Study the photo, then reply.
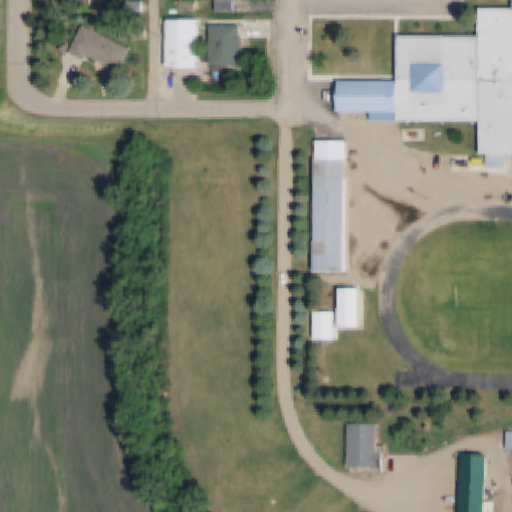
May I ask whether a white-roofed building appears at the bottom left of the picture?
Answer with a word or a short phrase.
No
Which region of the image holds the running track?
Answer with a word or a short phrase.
right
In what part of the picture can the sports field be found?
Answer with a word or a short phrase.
right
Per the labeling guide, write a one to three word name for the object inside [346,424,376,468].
shed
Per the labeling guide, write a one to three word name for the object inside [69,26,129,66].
house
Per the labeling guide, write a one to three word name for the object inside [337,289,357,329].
shed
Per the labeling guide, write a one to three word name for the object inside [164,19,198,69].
building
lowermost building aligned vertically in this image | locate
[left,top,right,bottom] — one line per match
[457,452,485,512]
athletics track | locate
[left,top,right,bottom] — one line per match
[380,206,512,387]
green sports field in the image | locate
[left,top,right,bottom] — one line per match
[396,222,512,372]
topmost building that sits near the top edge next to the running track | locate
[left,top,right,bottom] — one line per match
[334,8,512,168]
